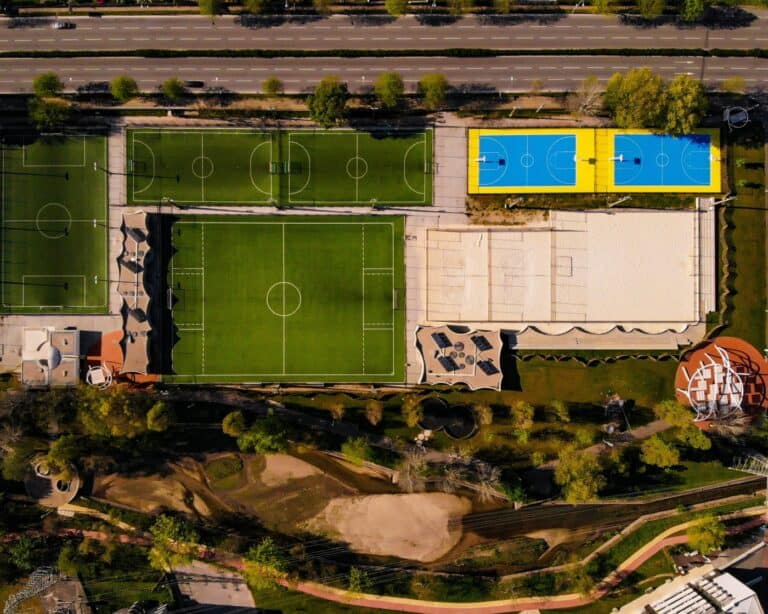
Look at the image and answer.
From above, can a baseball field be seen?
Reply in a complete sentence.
No, the frame has no baseball field in it.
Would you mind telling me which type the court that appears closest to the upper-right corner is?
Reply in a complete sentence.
What you see as the court that appears closest to the upper-right corner is a basketball court.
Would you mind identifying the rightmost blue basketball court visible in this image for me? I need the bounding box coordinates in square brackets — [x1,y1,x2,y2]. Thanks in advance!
[602,129,721,193]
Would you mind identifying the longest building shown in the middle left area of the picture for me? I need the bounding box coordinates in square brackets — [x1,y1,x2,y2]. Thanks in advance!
[115,210,154,376]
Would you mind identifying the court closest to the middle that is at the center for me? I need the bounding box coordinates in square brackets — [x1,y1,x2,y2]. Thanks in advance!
[427,231,488,321]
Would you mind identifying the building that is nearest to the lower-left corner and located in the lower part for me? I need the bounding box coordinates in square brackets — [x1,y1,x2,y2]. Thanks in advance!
[40,576,96,614]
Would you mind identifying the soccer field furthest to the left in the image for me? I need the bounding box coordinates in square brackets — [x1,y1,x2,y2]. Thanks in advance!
[0,130,107,313]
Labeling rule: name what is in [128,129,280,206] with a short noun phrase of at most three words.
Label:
soccer field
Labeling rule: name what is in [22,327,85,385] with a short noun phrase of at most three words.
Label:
building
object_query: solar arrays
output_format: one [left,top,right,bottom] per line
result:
[474,334,490,352]
[434,331,450,349]
[481,359,496,376]
[440,355,457,373]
